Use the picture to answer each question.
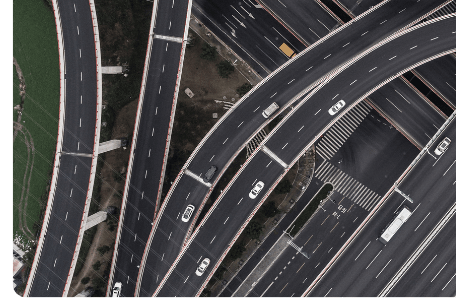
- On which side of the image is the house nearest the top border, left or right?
left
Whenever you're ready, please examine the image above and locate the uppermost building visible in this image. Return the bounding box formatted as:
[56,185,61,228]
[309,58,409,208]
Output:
[0,255,31,285]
